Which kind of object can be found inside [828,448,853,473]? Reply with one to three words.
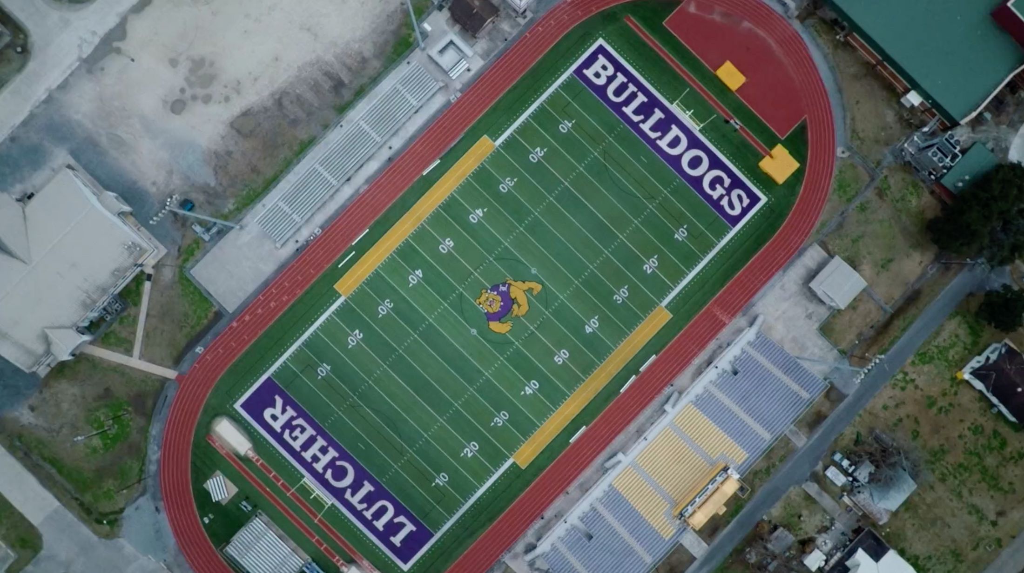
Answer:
truck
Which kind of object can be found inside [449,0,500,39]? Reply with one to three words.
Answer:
shed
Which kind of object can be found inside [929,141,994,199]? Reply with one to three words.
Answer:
shed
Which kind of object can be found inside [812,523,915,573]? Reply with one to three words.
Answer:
house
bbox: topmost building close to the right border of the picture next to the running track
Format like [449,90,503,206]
[813,0,1024,130]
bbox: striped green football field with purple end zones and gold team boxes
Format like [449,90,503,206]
[191,0,806,573]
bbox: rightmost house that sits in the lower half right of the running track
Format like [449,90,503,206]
[961,337,1024,422]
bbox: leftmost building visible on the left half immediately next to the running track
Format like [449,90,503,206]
[0,167,158,372]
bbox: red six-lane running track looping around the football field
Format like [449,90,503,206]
[160,0,835,573]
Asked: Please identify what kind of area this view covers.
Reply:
sports ground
